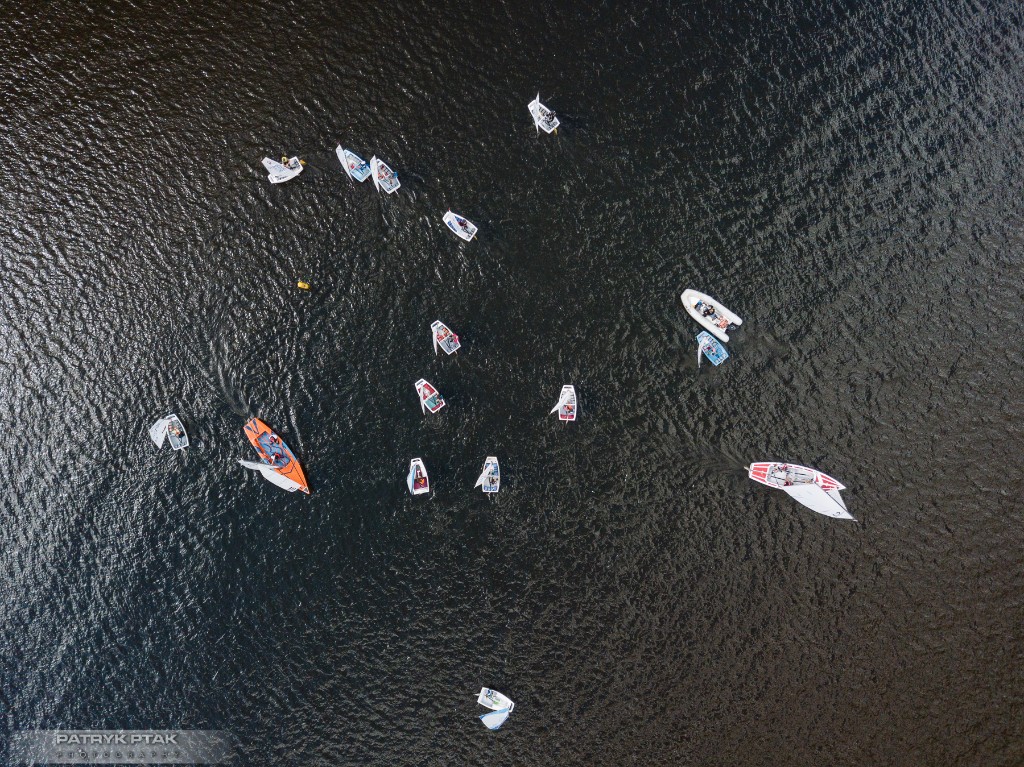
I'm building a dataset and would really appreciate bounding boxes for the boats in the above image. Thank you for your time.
[406,457,429,496]
[258,155,305,184]
[148,413,191,451]
[550,385,577,424]
[336,145,372,184]
[476,686,515,731]
[443,207,479,242]
[430,319,461,355]
[695,331,728,369]
[475,456,500,492]
[528,94,561,134]
[682,288,743,342]
[240,416,311,494]
[415,378,446,413]
[370,154,402,195]
[742,462,858,519]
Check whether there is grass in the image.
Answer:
No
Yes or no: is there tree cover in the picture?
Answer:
No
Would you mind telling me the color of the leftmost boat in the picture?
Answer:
white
